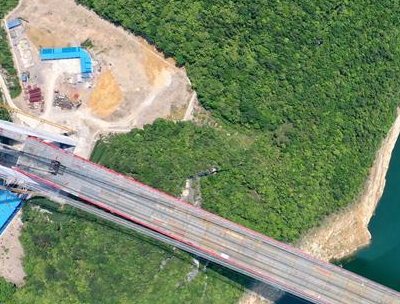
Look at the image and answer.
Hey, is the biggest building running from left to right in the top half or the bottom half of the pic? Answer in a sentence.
You can find the biggest building running from left to right in the top half.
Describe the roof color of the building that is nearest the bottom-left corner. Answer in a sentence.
The roof of the building that is nearest the bottom-left corner is blue.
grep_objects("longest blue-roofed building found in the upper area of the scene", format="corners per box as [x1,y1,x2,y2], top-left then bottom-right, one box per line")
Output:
[41,47,95,74]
